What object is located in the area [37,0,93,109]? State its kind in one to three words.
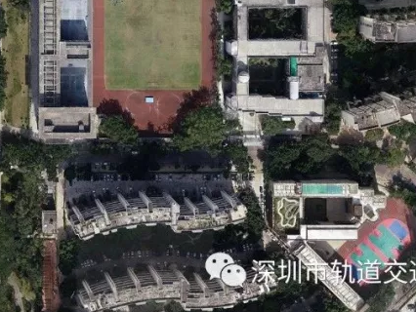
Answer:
building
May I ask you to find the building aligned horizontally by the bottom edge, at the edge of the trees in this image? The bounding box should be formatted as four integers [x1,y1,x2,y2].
[79,257,274,312]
